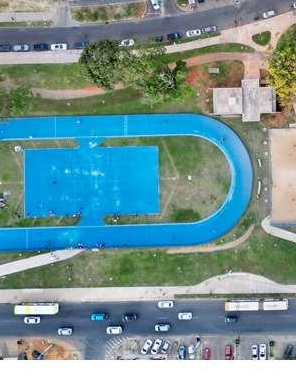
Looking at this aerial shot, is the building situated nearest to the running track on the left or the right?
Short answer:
right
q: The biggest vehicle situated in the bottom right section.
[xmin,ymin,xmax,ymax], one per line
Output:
[225,296,289,310]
